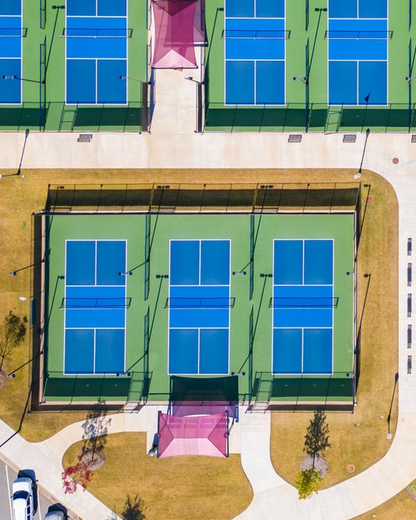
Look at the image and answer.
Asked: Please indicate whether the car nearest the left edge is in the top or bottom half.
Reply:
bottom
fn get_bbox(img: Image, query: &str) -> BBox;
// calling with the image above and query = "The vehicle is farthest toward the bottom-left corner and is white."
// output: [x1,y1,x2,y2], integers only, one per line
[9,476,36,520]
